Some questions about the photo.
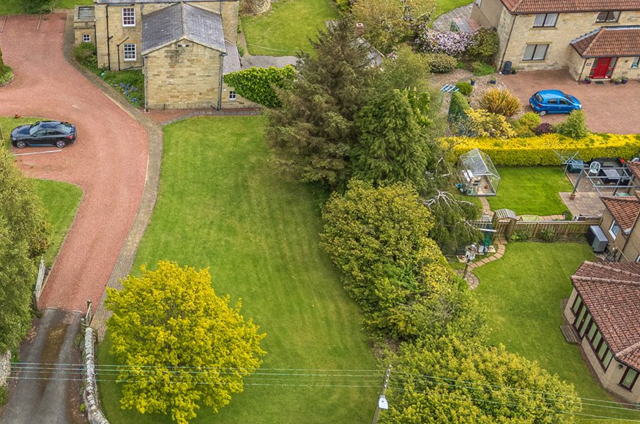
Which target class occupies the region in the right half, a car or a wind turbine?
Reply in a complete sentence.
What appears in the right half is a car.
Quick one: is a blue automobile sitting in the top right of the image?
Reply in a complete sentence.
Yes, I can see a blue automobile in the top right of the image.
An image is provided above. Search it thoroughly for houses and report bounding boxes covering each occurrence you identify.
[464,0,640,84]
[71,0,266,111]
[556,156,640,403]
